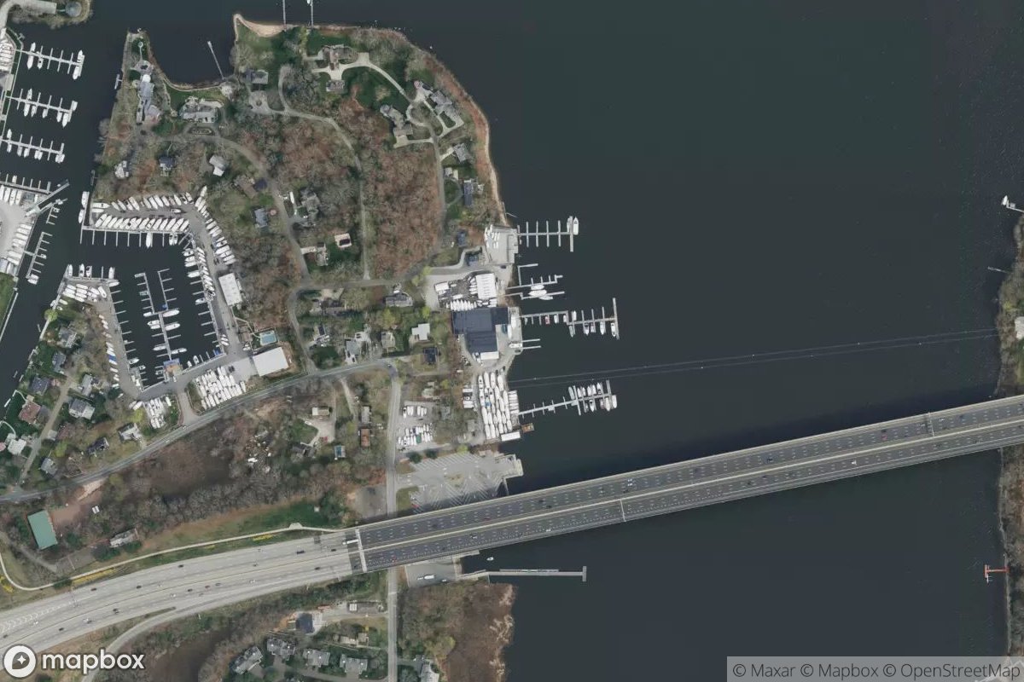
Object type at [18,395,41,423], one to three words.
house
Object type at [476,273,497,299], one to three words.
building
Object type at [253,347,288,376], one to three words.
building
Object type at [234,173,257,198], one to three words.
house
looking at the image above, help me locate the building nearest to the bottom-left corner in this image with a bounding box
[28,510,57,550]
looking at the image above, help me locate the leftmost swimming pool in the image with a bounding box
[260,332,277,345]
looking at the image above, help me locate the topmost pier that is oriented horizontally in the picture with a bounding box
[16,45,85,76]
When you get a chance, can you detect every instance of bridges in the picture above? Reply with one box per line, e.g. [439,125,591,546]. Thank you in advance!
[343,395,1024,576]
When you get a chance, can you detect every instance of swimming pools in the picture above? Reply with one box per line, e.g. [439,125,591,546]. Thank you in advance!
[334,444,344,458]
[260,332,277,345]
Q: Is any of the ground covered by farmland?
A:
No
